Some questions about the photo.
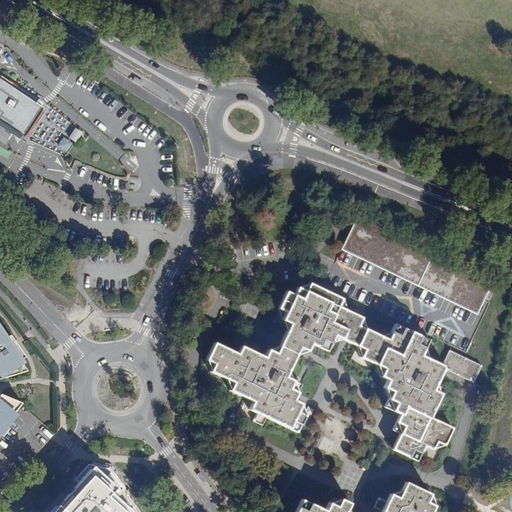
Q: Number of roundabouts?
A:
2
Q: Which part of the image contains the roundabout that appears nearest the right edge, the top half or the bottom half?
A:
top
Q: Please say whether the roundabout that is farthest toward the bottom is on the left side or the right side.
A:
left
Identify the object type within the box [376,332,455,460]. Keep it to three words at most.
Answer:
building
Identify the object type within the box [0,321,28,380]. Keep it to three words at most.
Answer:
building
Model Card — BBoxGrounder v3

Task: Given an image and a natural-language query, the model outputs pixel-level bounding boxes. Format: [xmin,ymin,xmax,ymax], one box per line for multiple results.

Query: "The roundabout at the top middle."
[206,84,282,160]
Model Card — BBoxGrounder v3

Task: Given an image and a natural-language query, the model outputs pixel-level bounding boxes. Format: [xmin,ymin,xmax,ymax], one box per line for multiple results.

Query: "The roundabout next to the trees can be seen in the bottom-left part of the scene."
[75,345,160,433]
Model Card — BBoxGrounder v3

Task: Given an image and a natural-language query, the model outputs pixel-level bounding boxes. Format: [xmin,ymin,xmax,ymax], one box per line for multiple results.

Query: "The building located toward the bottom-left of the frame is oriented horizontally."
[42,462,148,512]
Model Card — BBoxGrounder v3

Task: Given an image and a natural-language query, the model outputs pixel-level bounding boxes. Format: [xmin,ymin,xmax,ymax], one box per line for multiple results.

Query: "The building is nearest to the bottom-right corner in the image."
[377,481,438,512]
